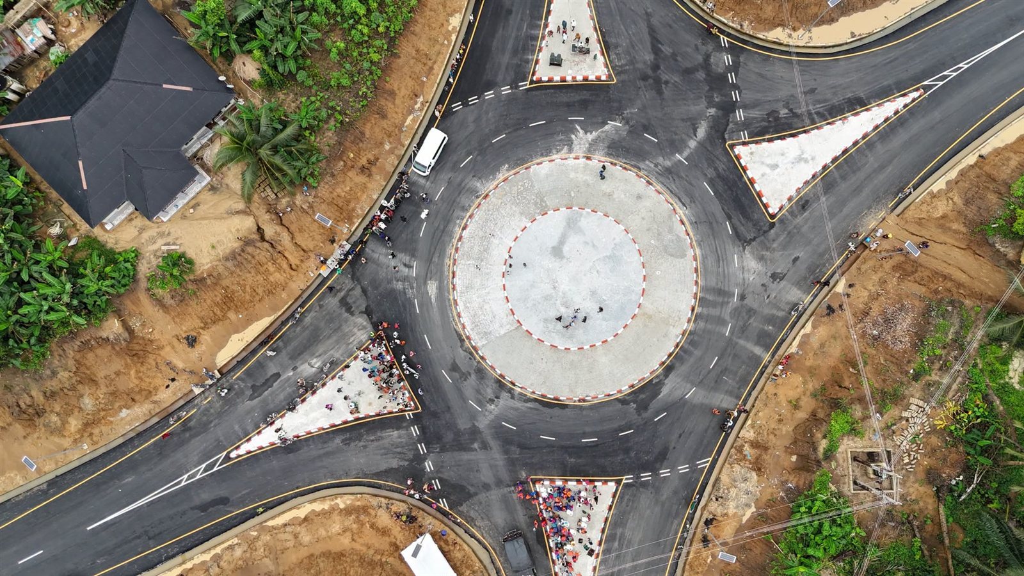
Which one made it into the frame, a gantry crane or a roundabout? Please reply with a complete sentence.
It is a roundabout that can be seen here.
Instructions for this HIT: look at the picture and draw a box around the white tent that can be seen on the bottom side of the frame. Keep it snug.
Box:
[401,527,459,576]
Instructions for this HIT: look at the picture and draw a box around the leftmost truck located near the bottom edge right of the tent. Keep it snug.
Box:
[503,526,537,576]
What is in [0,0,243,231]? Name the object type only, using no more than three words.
house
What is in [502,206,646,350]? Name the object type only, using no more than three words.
roundabout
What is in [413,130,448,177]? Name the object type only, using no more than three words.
vehicle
